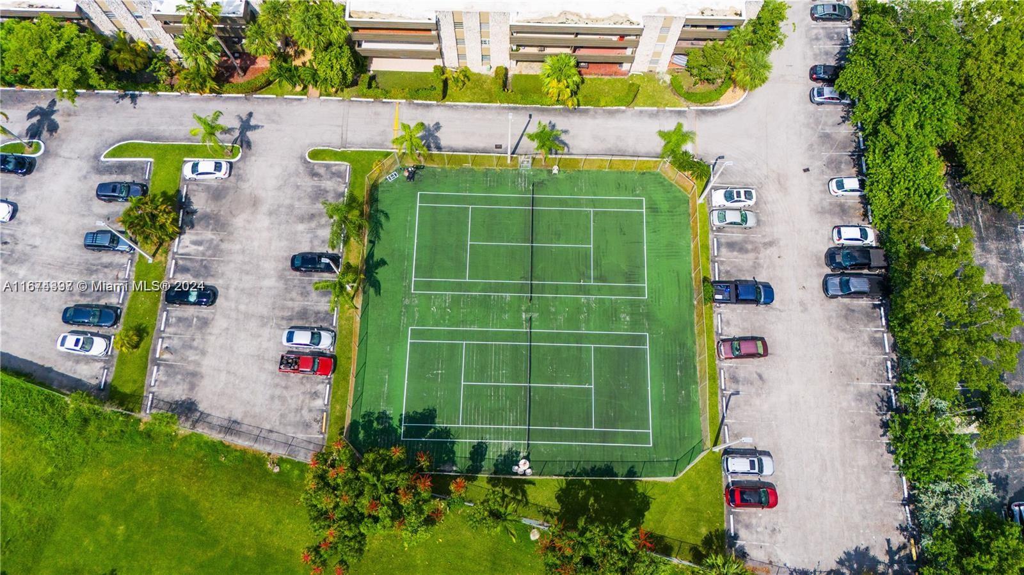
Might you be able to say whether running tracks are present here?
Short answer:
No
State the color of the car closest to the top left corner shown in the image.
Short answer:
black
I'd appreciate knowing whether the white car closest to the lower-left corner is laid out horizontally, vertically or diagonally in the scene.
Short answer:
horizontally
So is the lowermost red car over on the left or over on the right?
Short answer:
right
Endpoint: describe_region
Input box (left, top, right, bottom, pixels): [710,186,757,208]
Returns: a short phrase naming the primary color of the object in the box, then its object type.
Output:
white car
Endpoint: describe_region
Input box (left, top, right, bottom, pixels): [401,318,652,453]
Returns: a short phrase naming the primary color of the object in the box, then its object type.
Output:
green tennis court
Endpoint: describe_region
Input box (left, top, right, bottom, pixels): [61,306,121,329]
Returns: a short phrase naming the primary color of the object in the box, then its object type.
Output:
blue car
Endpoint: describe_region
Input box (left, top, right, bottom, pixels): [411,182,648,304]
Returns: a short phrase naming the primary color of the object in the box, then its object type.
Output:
green tennis court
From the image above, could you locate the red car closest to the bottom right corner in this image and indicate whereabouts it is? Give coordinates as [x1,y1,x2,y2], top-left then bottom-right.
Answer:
[724,485,779,511]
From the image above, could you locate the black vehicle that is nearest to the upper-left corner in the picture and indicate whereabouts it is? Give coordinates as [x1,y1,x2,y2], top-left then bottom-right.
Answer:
[0,154,31,176]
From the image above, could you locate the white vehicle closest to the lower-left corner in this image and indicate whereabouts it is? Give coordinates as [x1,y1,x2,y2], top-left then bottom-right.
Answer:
[55,333,113,357]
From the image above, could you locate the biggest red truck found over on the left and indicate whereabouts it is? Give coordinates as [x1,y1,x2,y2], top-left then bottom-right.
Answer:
[277,353,335,377]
